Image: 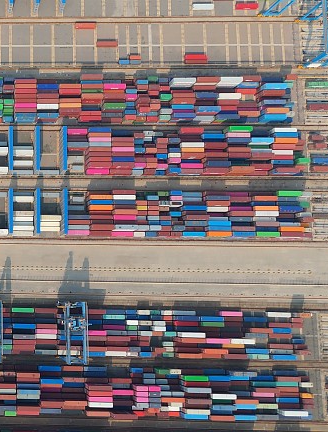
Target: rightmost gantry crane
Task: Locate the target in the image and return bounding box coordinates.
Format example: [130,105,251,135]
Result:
[292,0,328,68]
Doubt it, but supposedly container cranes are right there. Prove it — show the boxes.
[292,0,328,68]
[53,301,90,366]
[257,0,299,16]
[0,301,5,364]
